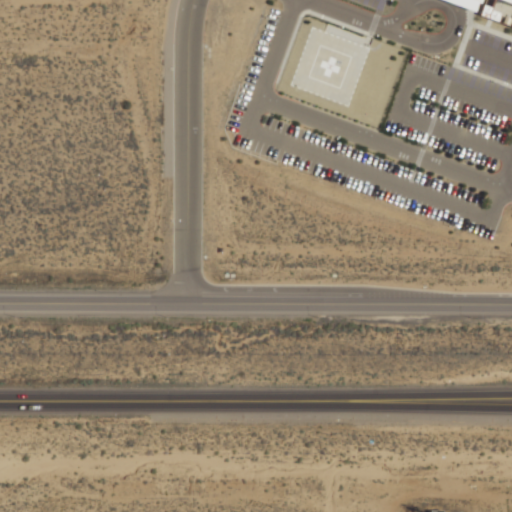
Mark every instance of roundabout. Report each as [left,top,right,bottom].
[396,0,467,54]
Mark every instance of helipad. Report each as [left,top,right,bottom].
[291,27,370,106]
